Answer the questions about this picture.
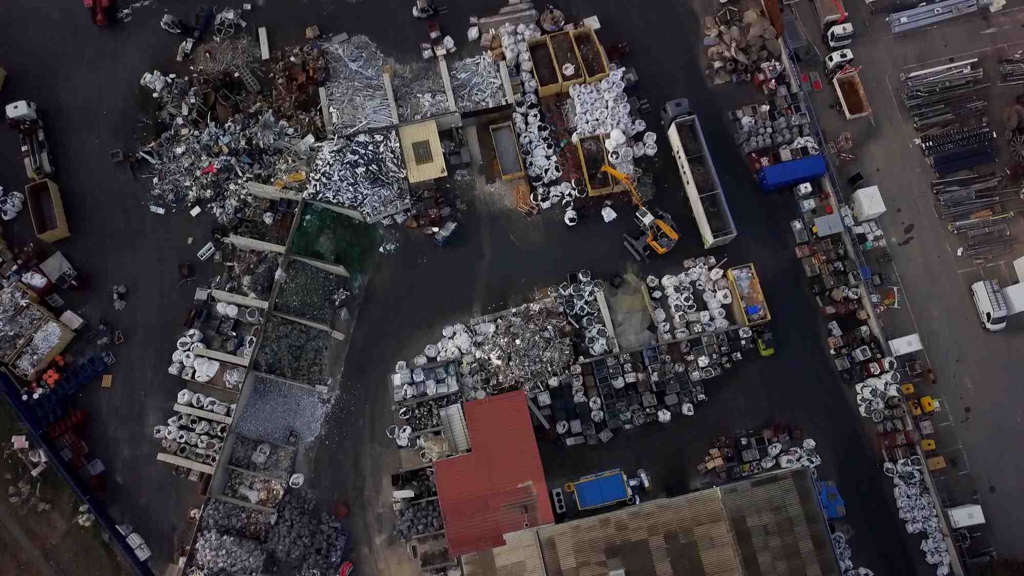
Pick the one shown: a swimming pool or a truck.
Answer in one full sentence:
Of the two, only a truck appears.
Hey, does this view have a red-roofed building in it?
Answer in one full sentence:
Yes, a red-roofed building can be made out from above.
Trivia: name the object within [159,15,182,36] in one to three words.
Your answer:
work vehicle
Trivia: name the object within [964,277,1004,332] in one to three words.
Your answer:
van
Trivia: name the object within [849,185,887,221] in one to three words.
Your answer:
building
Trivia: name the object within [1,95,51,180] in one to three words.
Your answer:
truck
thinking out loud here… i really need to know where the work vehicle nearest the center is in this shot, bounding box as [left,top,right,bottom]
[595,165,691,262]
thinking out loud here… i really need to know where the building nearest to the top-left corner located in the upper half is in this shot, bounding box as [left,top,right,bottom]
[399,119,447,191]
